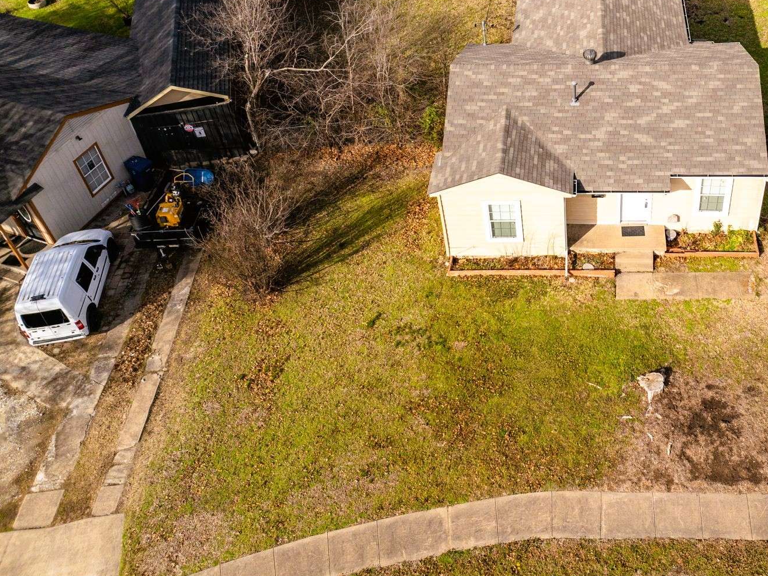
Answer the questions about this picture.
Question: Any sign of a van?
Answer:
Yes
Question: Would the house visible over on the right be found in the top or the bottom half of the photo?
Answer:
top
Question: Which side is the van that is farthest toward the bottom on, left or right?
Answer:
left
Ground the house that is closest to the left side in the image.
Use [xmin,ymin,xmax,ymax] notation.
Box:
[0,4,139,280]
